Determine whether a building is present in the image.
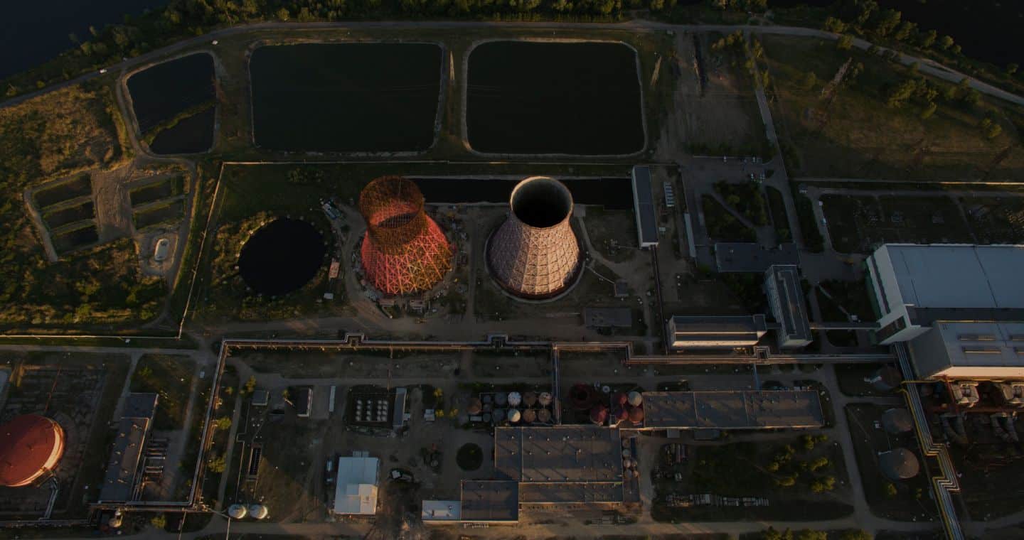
Yes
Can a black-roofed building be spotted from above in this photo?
Yes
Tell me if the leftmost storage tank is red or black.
red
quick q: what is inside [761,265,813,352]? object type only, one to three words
building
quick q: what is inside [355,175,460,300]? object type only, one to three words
cooling tower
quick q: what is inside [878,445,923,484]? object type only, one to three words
storage tank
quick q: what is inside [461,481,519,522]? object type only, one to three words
building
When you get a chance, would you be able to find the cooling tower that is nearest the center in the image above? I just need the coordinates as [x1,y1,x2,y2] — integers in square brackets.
[484,175,589,301]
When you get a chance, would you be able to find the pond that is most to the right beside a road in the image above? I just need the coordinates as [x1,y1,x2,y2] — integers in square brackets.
[468,43,644,154]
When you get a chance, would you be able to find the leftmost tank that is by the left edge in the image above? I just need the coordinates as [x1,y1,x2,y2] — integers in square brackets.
[0,417,71,491]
